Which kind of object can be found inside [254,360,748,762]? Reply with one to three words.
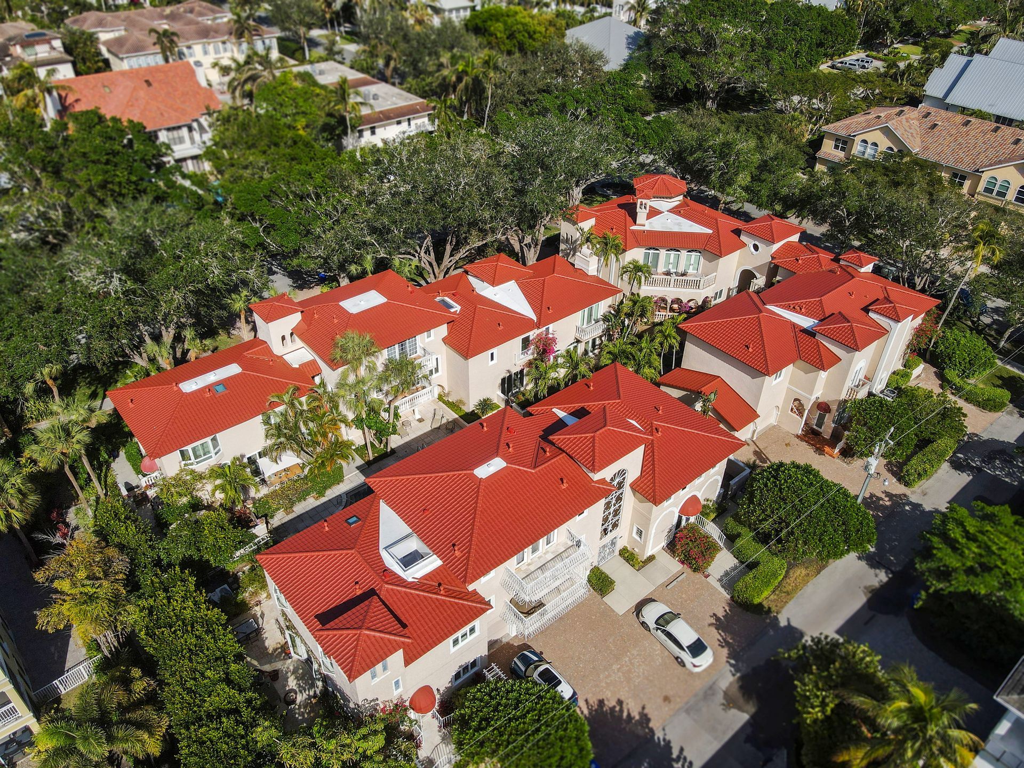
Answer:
house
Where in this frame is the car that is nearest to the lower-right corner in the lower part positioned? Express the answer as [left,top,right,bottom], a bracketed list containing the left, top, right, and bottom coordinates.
[636,598,719,672]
